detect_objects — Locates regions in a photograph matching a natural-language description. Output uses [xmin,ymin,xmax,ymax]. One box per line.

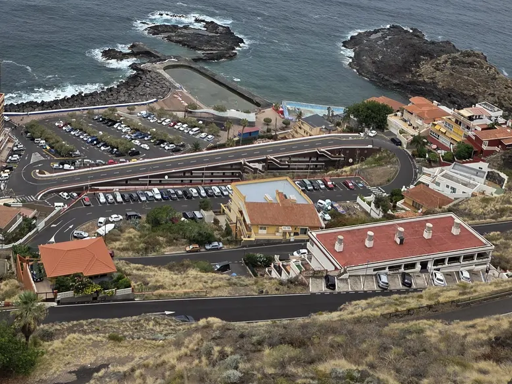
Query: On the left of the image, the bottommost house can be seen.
[18,236,134,299]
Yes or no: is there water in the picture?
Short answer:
Yes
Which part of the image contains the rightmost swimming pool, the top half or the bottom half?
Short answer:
top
